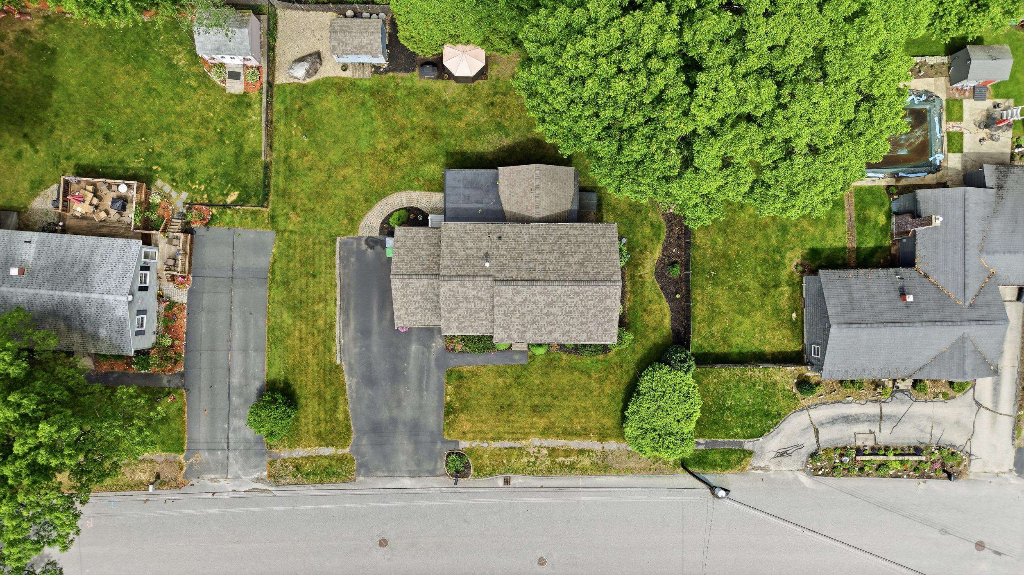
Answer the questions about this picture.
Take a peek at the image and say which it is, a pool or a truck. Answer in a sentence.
I can see a pool in this picture.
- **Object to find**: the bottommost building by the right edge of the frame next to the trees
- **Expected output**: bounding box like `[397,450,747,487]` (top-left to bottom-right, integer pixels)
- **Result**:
[804,163,1024,382]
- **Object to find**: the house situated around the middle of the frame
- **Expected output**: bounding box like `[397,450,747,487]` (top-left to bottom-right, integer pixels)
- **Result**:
[392,162,620,345]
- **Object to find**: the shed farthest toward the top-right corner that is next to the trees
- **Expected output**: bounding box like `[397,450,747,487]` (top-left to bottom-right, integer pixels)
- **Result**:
[950,47,1013,87]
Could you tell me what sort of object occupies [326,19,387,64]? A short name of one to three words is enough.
shed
